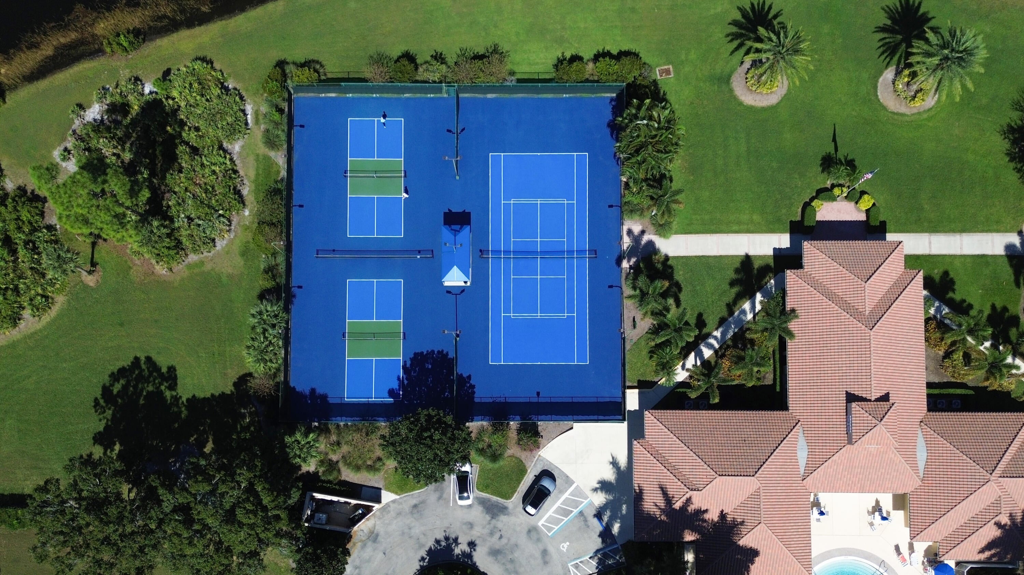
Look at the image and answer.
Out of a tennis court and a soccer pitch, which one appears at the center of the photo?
tennis court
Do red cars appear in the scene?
No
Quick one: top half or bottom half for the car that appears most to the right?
bottom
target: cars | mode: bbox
[455,462,473,506]
[523,474,555,518]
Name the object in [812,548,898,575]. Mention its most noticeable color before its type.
white swimming pool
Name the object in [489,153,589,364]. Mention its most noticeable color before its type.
blue tennis court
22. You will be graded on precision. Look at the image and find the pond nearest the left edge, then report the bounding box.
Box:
[0,0,310,104]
